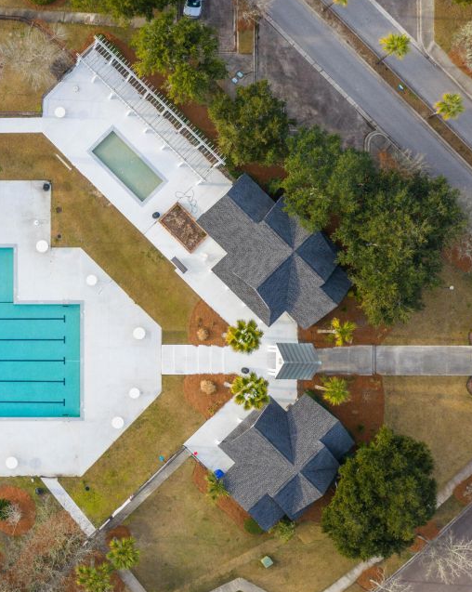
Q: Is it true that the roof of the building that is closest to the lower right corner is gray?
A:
Yes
